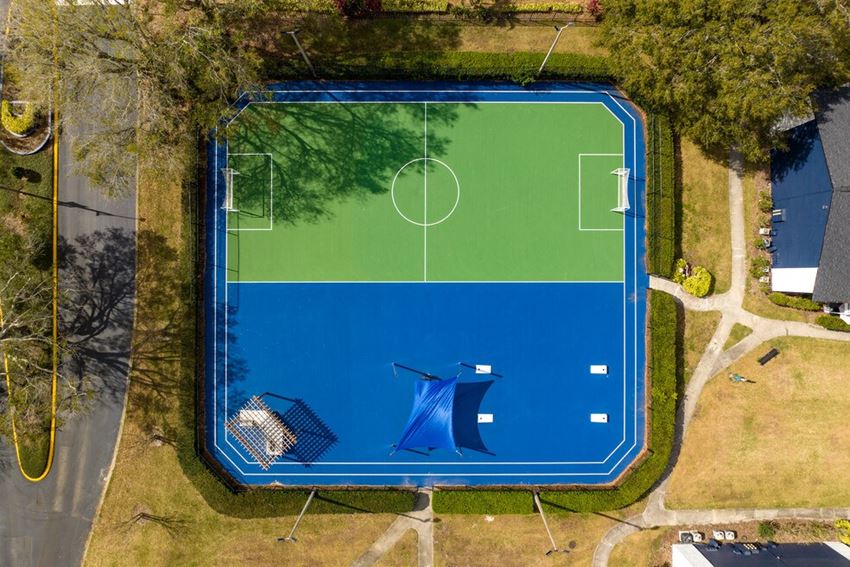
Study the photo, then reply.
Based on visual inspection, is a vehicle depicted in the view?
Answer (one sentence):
No, there is no vehicle in the image.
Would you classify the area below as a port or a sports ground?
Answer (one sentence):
The area seen from above is a sports ground.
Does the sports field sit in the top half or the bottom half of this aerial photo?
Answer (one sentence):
Seen from above, the sports field lies in the top half of the view.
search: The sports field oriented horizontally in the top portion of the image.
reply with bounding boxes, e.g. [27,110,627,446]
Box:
[227,104,623,282]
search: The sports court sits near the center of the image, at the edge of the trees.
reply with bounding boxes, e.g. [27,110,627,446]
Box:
[206,81,646,486]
